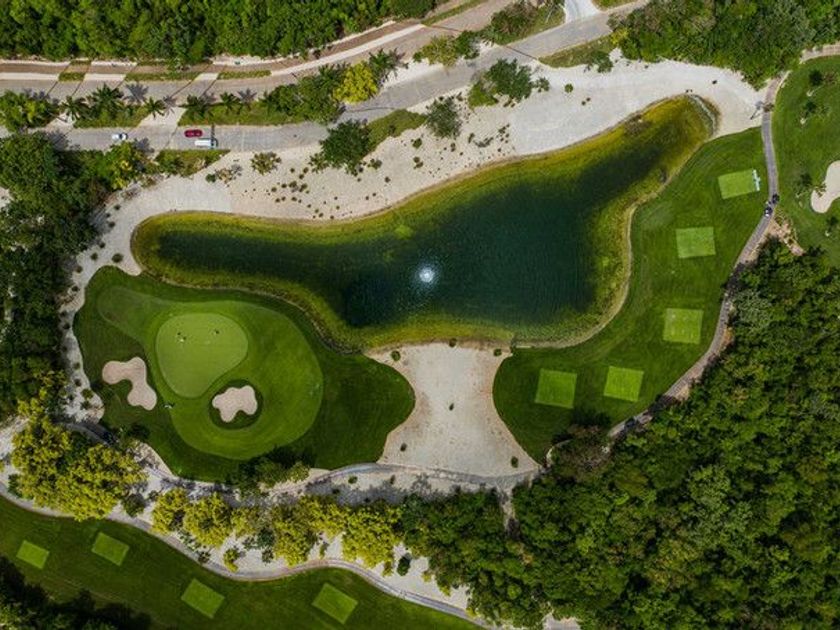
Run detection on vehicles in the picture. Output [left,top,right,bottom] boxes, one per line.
[111,131,127,140]
[192,137,217,148]
[772,194,783,204]
[764,206,775,216]
[184,128,202,137]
